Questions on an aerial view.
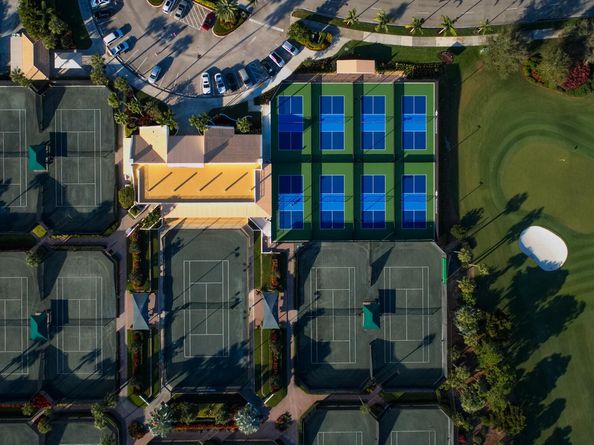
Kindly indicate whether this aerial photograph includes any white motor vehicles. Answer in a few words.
Yes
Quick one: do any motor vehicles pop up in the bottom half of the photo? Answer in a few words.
No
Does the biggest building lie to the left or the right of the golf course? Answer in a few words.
on the left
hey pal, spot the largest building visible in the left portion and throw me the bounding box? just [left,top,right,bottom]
[124,125,270,219]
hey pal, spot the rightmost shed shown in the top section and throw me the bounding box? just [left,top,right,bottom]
[336,58,375,74]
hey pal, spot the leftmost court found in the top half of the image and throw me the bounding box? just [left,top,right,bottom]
[0,87,40,233]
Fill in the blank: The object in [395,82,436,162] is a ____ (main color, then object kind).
blue sports court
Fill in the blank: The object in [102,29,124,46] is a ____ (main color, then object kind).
white car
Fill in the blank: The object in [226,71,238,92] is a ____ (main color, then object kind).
black vehicle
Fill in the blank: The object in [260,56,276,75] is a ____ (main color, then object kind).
black car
